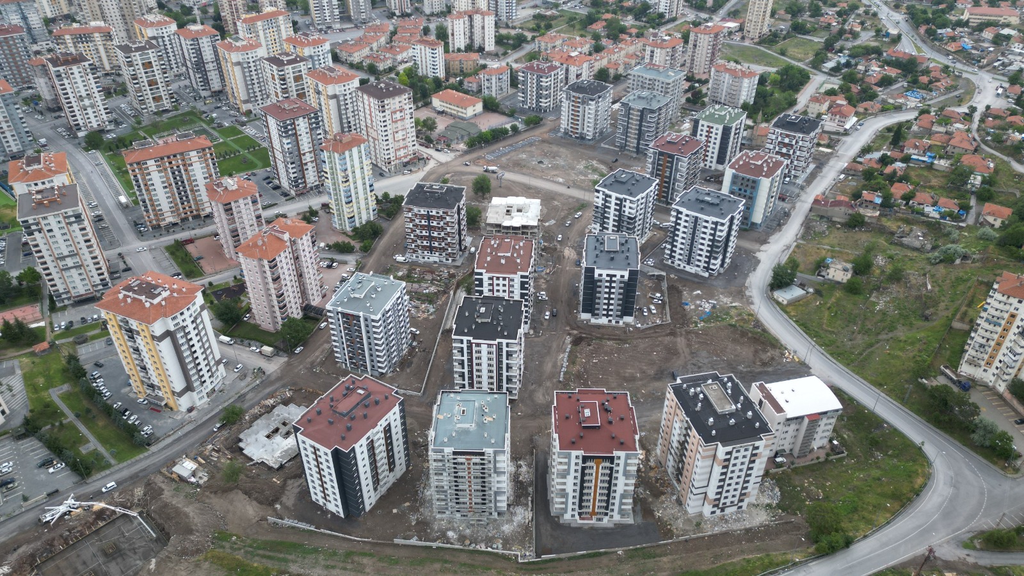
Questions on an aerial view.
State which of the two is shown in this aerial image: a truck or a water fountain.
truck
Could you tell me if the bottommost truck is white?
Yes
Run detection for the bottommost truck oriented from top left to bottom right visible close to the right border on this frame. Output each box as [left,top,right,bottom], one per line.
[939,365,974,390]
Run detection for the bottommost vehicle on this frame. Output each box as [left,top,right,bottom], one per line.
[35,490,159,544]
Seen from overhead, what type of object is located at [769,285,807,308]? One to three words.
house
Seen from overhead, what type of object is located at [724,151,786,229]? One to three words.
building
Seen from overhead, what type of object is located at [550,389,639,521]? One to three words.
building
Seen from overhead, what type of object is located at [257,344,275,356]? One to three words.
vehicle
